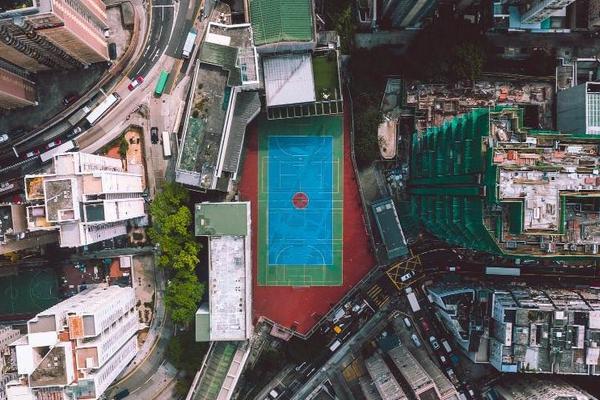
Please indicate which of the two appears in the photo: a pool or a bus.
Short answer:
bus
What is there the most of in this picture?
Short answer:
buildings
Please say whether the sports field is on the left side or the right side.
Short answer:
left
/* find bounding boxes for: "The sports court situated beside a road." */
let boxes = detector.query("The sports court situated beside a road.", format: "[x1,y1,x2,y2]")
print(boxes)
[238,90,376,338]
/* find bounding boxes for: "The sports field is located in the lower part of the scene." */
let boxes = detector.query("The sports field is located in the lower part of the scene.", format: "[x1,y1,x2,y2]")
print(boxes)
[0,261,60,329]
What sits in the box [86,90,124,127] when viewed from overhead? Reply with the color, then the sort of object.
white bus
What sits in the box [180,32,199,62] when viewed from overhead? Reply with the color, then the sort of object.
white vehicle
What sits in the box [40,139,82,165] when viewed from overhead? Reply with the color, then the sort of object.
white bus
